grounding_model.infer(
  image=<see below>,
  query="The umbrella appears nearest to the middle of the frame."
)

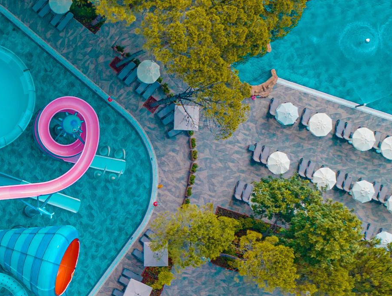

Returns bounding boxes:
[171,107,197,131]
